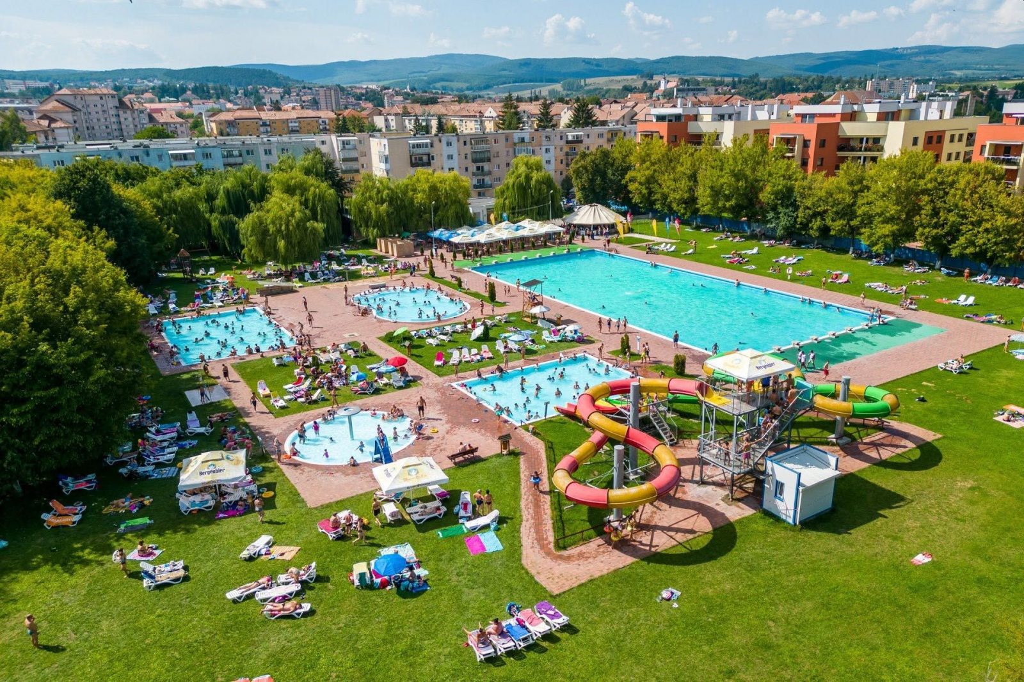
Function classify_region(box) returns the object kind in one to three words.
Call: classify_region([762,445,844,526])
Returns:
shed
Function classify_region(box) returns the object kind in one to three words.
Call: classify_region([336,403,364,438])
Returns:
fountain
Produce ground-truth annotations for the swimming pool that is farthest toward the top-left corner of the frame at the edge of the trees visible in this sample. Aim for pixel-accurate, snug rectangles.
[161,307,295,366]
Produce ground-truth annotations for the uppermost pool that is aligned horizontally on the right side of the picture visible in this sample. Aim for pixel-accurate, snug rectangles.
[469,250,884,355]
